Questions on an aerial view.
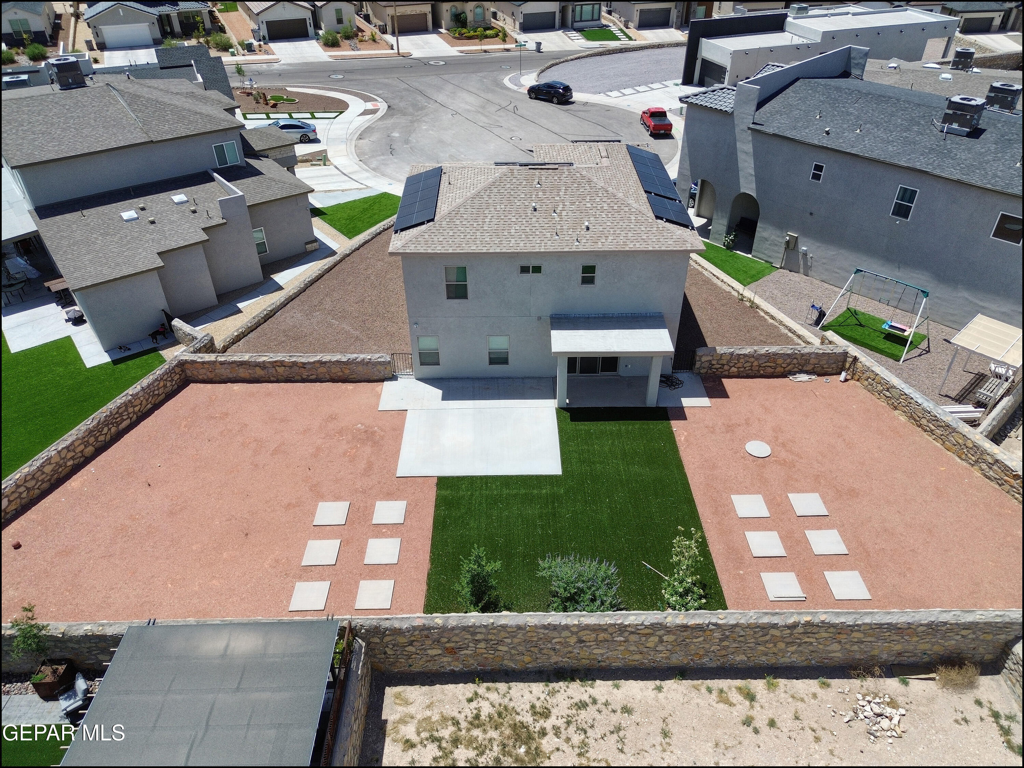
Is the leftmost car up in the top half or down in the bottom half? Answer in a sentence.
The leftmost car sits in the top half of the picture.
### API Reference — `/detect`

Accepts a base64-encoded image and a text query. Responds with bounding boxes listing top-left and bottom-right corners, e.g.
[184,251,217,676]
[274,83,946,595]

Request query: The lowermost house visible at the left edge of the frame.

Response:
[0,70,324,350]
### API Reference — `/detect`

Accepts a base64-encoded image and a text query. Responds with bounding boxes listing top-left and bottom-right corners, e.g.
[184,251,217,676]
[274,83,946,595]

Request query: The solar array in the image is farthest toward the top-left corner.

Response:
[393,167,443,233]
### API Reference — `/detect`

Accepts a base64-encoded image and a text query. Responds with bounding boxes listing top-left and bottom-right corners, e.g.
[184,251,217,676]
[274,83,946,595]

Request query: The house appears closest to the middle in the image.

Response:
[387,138,707,407]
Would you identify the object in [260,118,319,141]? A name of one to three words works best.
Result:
car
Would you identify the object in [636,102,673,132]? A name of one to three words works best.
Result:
truck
